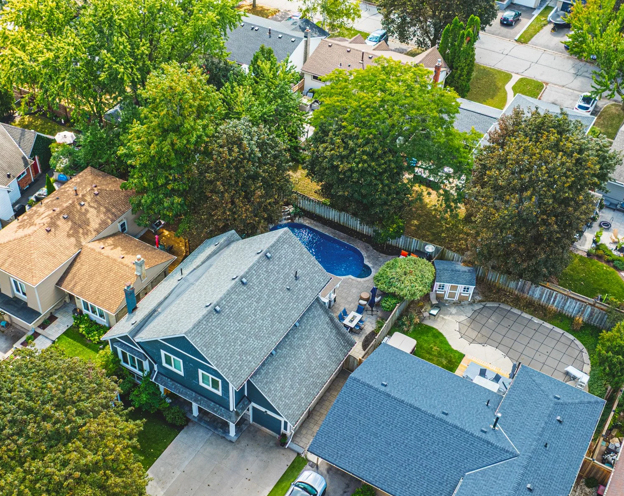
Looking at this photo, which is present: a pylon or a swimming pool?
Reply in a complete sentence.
Visible in the photo is a swimming pool.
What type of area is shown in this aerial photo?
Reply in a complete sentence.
The picture captures a residential area.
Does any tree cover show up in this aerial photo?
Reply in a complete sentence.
Yes, tree cover can be seen from above here.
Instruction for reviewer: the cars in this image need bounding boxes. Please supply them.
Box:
[571,94,600,115]
[562,35,587,54]
[366,24,392,47]
[289,469,330,496]
[497,10,523,29]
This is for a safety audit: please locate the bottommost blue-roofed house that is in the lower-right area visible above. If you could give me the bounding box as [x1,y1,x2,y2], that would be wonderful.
[308,342,609,496]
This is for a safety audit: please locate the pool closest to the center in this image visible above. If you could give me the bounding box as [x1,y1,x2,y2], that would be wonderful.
[268,219,372,280]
